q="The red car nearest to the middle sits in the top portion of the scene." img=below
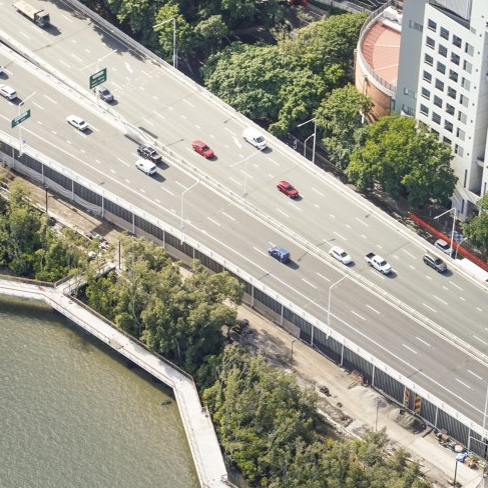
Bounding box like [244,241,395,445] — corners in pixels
[277,182,301,198]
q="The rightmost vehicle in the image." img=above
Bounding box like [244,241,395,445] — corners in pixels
[458,255,488,280]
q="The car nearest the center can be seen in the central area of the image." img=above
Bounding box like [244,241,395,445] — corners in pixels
[269,248,292,264]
